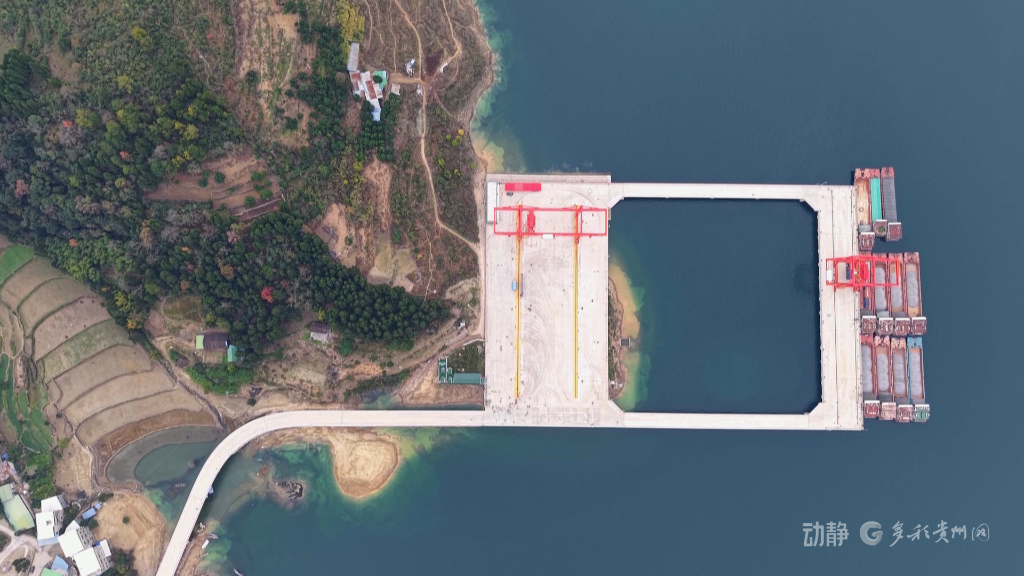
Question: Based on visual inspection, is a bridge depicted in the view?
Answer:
Yes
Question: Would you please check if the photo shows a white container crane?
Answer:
No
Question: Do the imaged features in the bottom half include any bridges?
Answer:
Yes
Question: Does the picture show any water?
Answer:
Yes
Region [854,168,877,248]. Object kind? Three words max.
ship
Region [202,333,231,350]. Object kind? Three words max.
house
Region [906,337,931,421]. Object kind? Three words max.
ship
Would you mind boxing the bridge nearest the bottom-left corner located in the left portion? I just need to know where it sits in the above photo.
[156,409,484,576]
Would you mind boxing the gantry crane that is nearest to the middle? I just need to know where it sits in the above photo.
[494,202,607,246]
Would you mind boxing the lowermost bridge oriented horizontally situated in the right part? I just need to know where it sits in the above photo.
[624,413,809,429]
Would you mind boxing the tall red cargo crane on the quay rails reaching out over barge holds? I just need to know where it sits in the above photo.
[825,255,901,295]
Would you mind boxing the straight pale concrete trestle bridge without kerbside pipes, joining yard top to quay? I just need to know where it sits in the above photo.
[624,183,803,201]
